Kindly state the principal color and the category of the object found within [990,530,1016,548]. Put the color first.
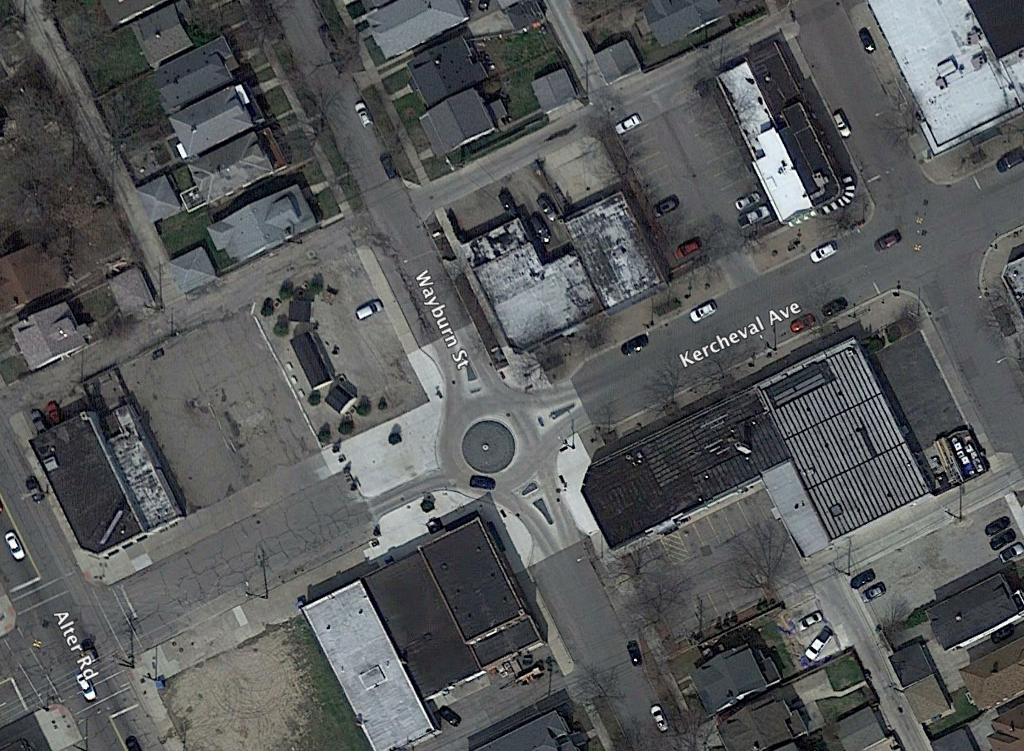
black car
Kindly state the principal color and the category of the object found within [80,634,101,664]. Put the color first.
black truck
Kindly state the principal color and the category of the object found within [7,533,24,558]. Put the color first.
white car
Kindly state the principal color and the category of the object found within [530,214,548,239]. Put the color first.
black car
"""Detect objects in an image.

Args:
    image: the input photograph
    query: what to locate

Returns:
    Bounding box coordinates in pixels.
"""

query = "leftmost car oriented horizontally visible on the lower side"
[470,476,496,489]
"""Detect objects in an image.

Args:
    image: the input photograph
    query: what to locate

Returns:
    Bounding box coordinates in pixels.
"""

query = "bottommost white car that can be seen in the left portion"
[79,675,96,700]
